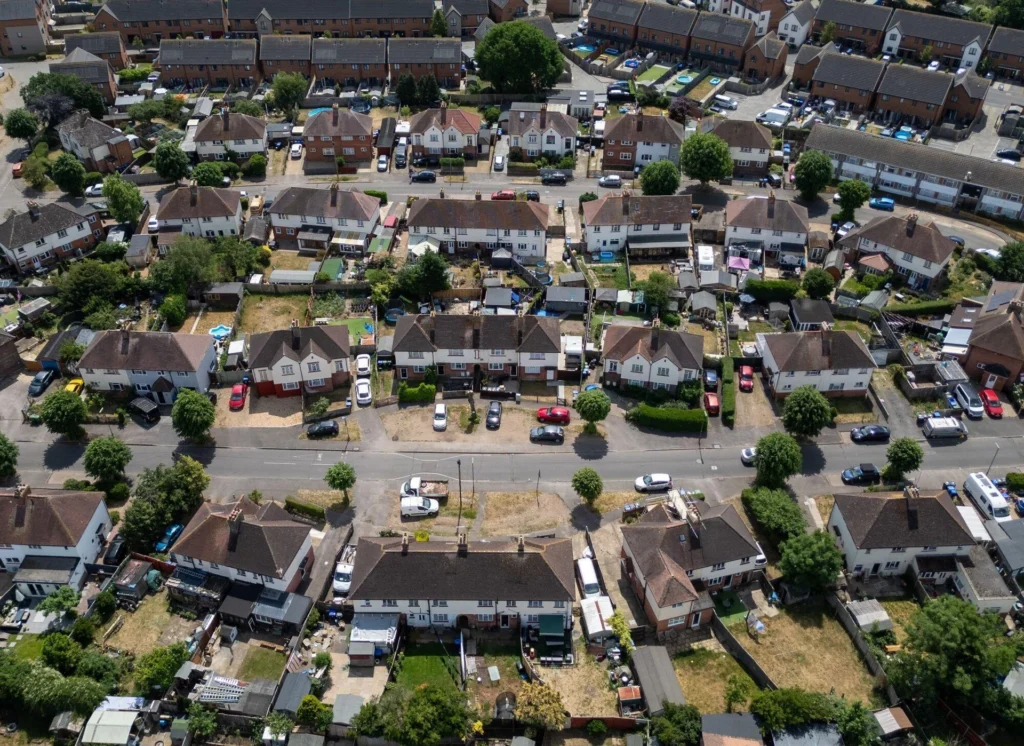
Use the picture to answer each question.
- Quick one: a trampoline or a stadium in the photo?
trampoline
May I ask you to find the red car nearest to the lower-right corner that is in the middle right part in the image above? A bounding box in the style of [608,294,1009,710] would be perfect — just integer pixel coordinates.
[981,391,1003,416]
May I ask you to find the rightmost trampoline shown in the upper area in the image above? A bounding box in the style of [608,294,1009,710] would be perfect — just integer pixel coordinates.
[531,261,555,286]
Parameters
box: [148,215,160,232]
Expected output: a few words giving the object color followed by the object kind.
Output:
white vehicle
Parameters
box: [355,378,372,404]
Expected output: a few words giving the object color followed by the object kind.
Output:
white car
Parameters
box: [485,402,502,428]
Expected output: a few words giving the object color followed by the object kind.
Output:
gray car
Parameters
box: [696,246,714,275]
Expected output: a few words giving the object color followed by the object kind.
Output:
white camper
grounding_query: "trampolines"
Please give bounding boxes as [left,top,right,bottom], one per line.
[380,297,406,323]
[490,678,519,717]
[531,261,555,286]
[350,93,372,112]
